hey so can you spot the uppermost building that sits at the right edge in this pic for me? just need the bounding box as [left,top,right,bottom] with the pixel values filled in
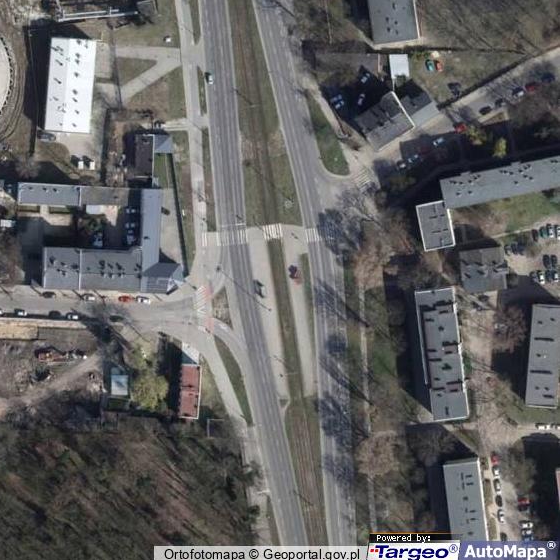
[437,155,560,209]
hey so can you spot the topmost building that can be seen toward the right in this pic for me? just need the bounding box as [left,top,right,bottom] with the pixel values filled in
[366,0,420,44]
